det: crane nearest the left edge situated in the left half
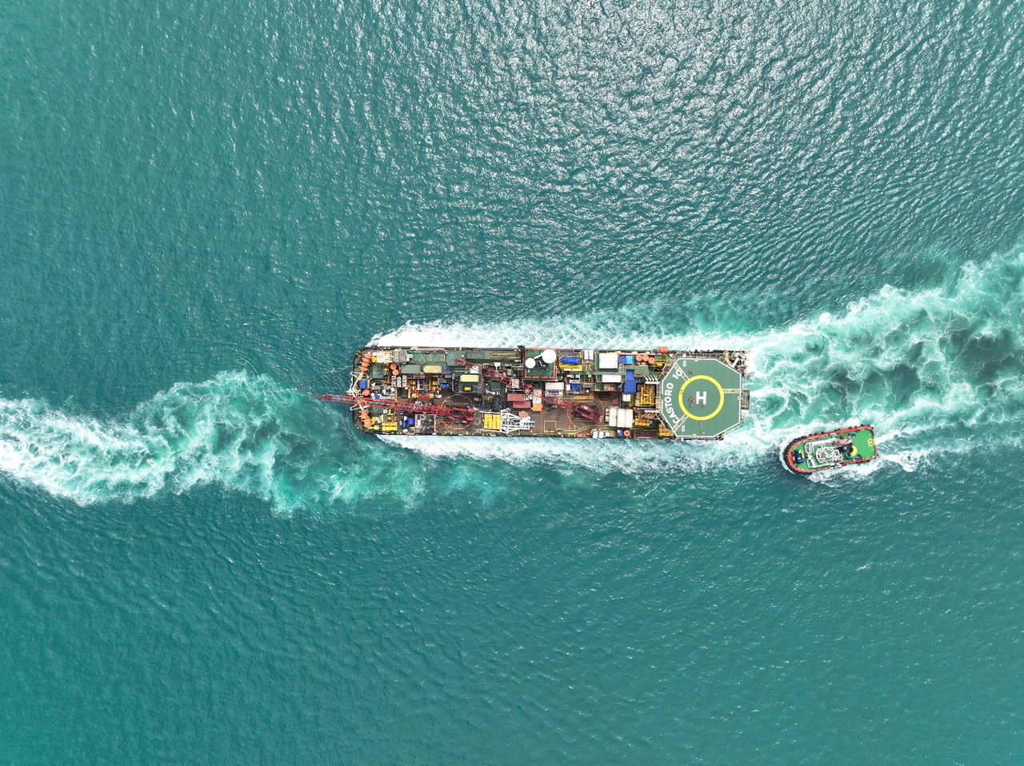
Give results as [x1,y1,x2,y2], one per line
[313,394,474,423]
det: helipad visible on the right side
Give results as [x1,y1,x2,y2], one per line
[658,355,744,441]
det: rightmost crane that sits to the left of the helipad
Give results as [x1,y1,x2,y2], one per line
[455,357,606,427]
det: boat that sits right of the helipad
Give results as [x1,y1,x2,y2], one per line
[780,426,878,470]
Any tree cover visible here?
No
